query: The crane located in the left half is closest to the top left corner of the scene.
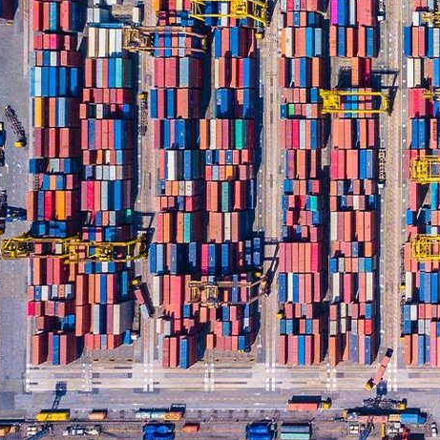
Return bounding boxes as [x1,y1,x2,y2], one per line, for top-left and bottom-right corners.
[125,25,208,58]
